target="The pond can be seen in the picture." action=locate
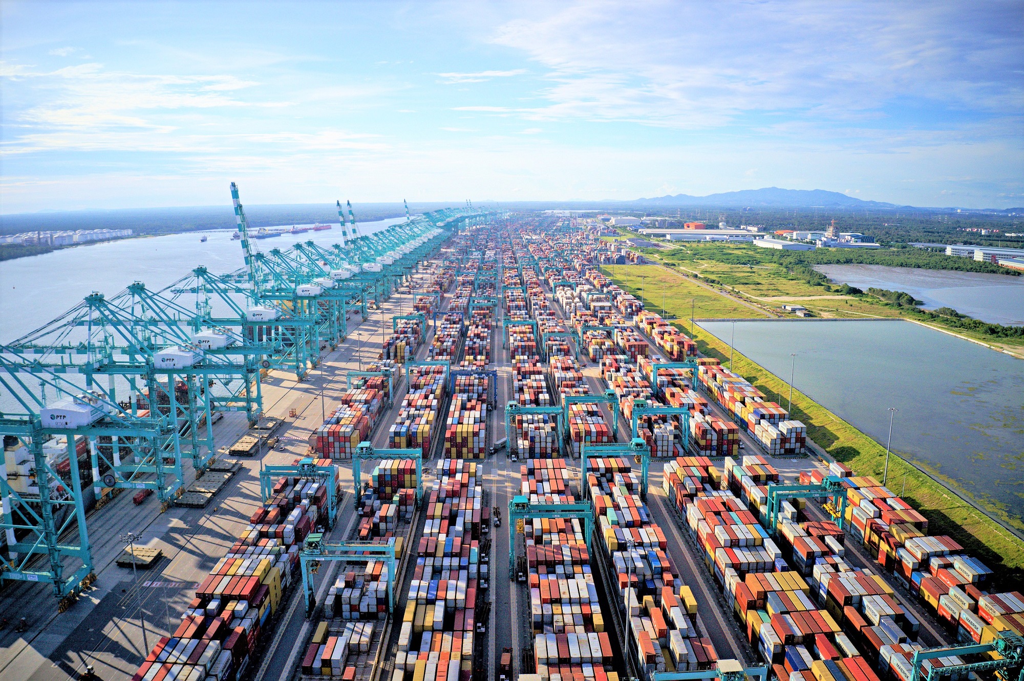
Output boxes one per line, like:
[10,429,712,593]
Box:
[694,321,1024,536]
